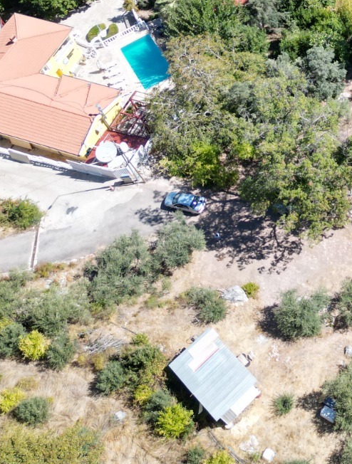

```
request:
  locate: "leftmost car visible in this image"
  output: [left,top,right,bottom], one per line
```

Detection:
[160,189,206,214]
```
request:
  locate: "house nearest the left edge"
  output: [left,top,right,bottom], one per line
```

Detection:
[0,14,121,160]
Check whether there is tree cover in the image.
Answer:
Yes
